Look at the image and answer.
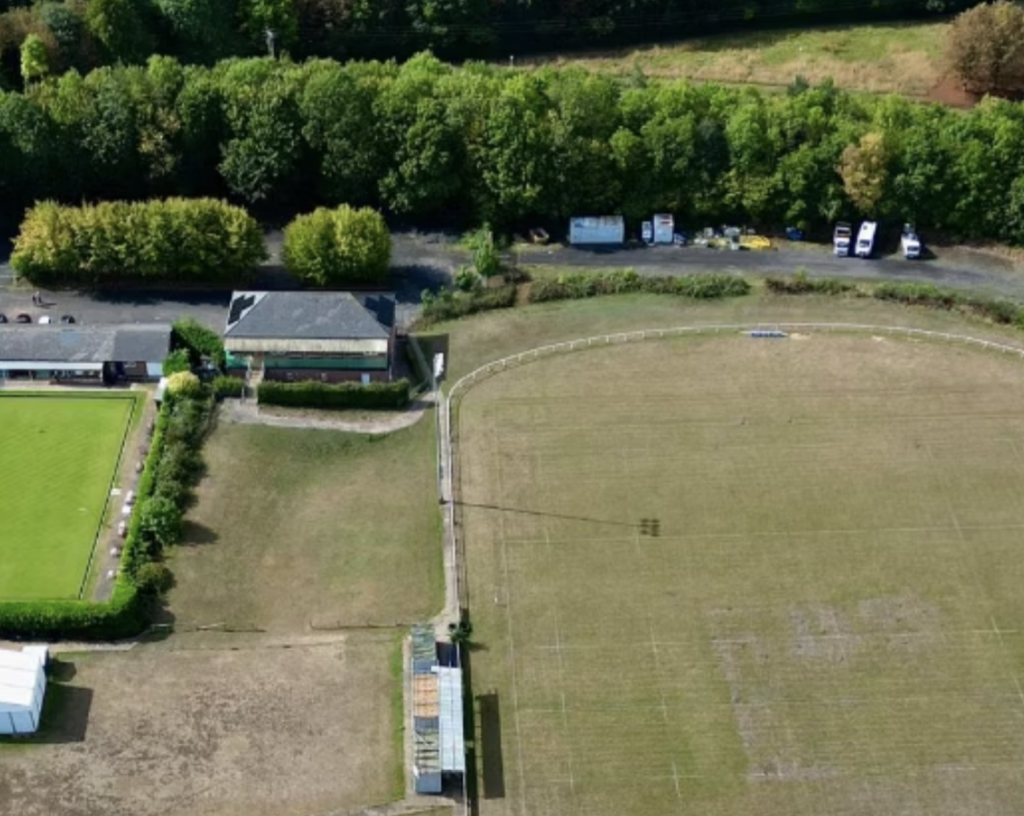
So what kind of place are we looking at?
sports ground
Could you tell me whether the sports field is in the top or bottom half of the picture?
bottom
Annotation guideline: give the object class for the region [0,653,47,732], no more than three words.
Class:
tent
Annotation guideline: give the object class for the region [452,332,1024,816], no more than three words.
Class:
sports field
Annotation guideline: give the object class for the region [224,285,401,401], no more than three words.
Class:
building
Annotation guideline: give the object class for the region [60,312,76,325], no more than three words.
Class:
vehicle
